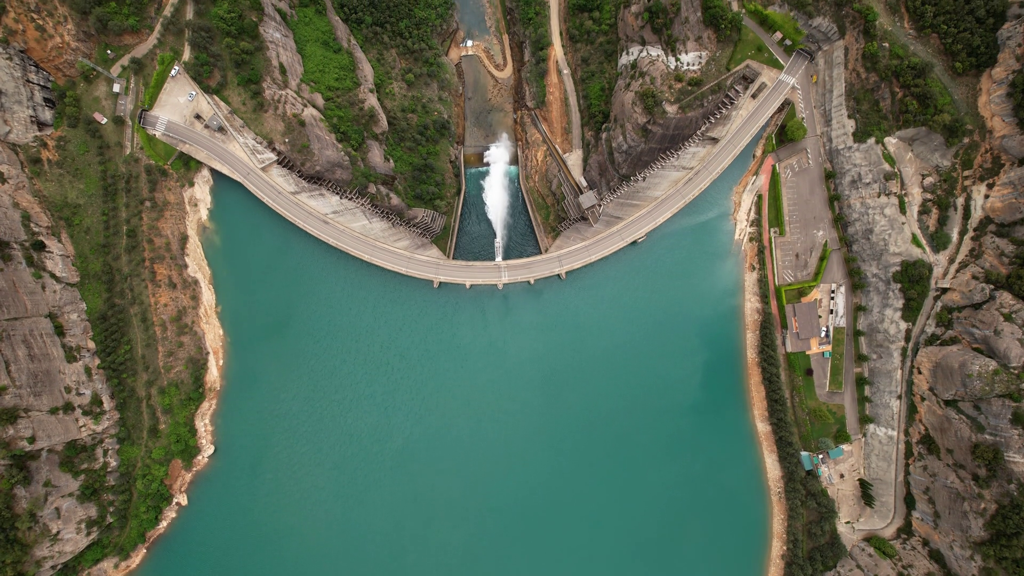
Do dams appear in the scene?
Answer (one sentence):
Yes, the photo shows a dam.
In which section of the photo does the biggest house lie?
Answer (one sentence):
The biggest house is in the right part of the image.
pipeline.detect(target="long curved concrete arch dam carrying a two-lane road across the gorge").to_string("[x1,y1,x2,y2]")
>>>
[138,45,813,290]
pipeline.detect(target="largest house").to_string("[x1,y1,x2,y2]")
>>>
[782,299,821,352]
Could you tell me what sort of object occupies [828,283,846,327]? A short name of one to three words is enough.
building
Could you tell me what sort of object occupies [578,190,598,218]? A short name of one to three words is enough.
building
